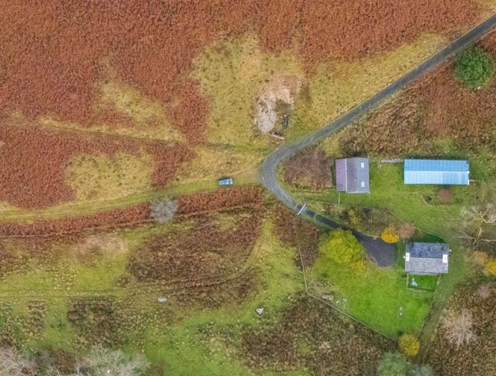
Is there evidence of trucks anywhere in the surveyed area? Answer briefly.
No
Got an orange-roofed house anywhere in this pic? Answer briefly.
No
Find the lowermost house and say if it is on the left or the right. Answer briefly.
right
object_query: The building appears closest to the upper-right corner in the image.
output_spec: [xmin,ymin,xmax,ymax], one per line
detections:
[404,159,470,186]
